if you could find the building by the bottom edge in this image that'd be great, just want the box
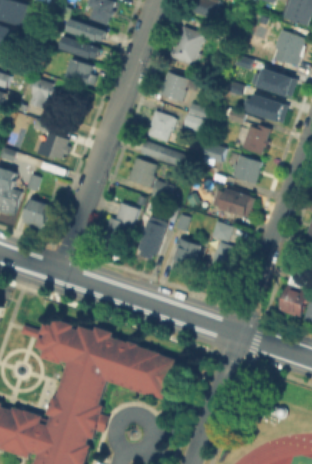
[0,318,174,464]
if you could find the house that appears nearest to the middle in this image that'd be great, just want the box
[140,218,167,257]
